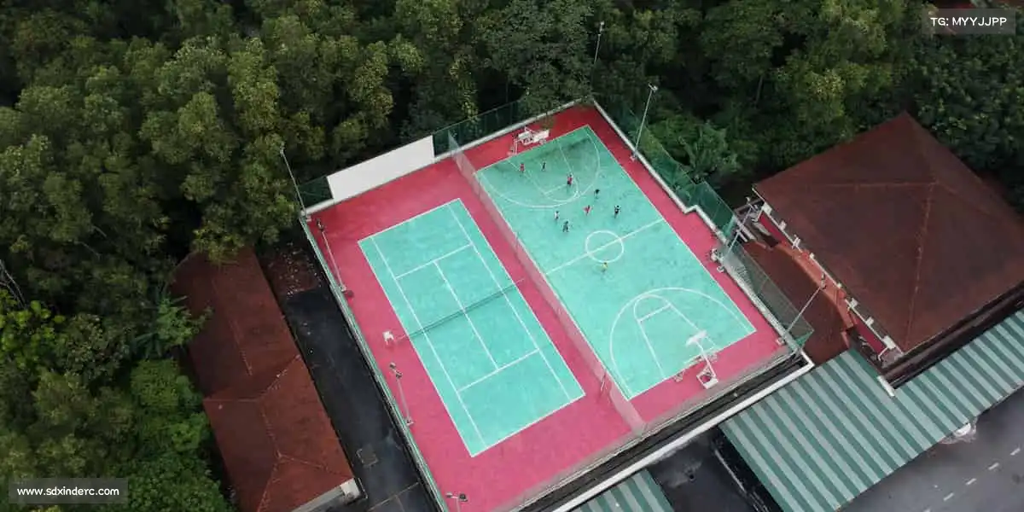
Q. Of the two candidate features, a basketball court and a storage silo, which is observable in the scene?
basketball court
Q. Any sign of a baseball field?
No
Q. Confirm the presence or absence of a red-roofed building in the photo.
Yes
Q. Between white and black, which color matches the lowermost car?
white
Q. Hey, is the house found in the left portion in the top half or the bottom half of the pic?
bottom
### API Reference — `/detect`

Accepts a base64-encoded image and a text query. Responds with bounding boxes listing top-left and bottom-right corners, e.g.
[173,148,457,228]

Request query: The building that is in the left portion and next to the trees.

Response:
[164,227,368,512]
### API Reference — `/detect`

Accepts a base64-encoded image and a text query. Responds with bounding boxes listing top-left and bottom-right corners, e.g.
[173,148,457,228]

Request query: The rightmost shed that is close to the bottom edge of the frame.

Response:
[724,313,1024,512]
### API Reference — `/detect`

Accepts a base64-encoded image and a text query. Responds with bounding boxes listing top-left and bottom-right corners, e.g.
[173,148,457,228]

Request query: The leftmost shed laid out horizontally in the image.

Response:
[579,472,672,512]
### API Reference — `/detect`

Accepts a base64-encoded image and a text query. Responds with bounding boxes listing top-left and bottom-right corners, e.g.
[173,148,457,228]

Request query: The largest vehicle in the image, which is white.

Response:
[949,419,971,439]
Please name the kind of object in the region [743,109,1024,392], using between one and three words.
building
